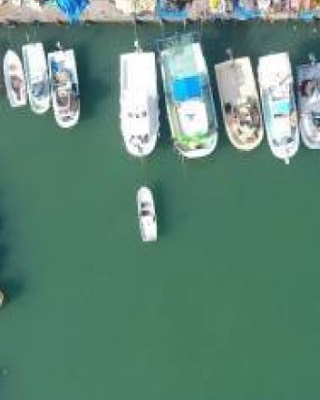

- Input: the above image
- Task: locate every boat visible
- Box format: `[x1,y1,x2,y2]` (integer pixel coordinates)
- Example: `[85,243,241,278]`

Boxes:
[4,49,27,109]
[21,35,49,115]
[214,49,263,151]
[256,51,298,161]
[153,21,221,159]
[48,44,78,129]
[117,42,162,158]
[298,56,320,149]
[139,186,156,246]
